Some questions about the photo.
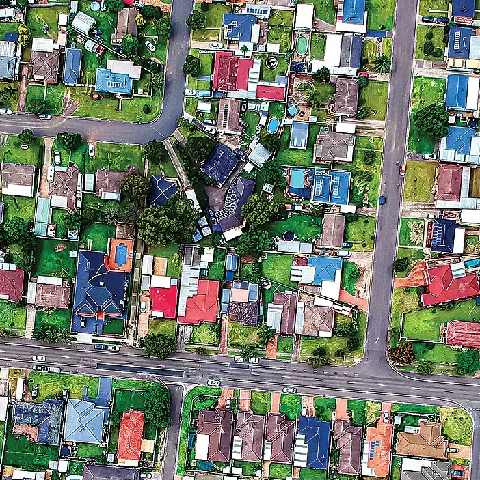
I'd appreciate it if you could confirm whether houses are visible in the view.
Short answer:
Yes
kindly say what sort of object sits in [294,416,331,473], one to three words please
house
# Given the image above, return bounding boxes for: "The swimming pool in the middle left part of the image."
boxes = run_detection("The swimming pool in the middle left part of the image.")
[112,243,128,267]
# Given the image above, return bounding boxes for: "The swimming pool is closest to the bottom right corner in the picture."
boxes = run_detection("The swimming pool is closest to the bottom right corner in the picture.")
[463,257,480,269]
